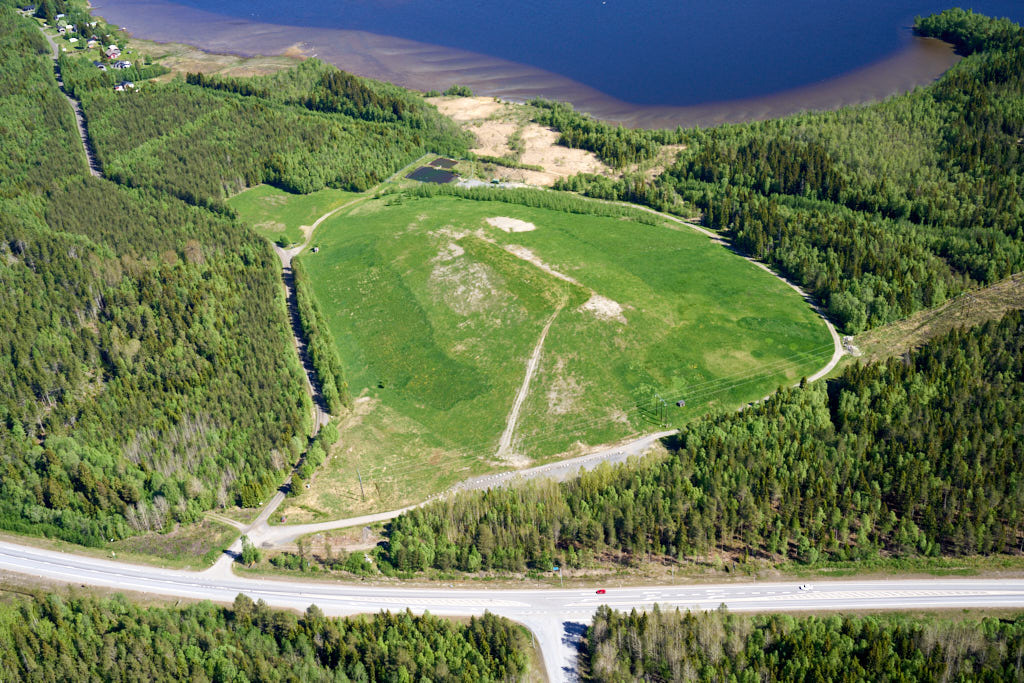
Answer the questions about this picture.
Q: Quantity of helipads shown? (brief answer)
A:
none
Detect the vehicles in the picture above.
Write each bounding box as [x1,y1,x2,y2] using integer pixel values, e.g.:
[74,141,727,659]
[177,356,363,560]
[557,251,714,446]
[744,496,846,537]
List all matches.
[596,588,606,594]
[799,583,813,590]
